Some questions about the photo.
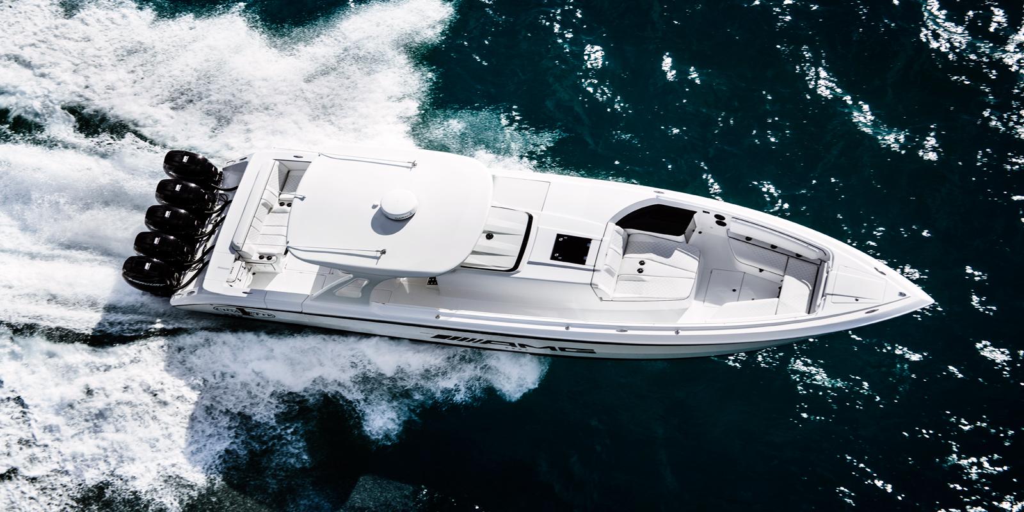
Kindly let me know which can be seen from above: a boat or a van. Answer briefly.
boat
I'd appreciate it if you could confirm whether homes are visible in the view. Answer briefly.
No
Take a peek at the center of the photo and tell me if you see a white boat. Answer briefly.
Yes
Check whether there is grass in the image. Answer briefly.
No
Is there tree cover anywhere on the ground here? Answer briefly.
No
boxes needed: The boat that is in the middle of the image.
[121,146,939,360]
